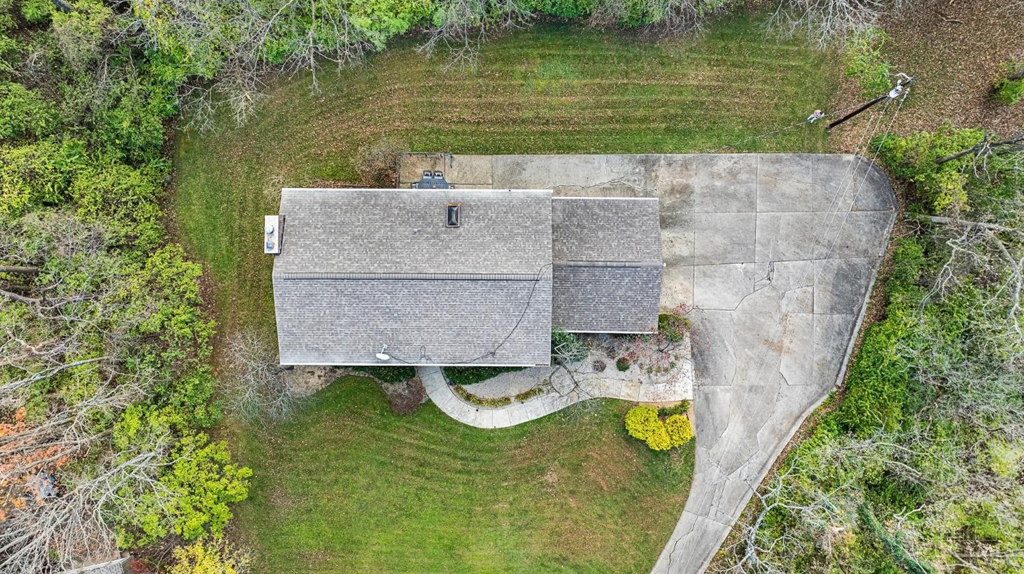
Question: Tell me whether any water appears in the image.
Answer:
No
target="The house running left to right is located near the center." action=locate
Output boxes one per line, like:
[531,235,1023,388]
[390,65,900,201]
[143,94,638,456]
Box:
[265,186,667,368]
